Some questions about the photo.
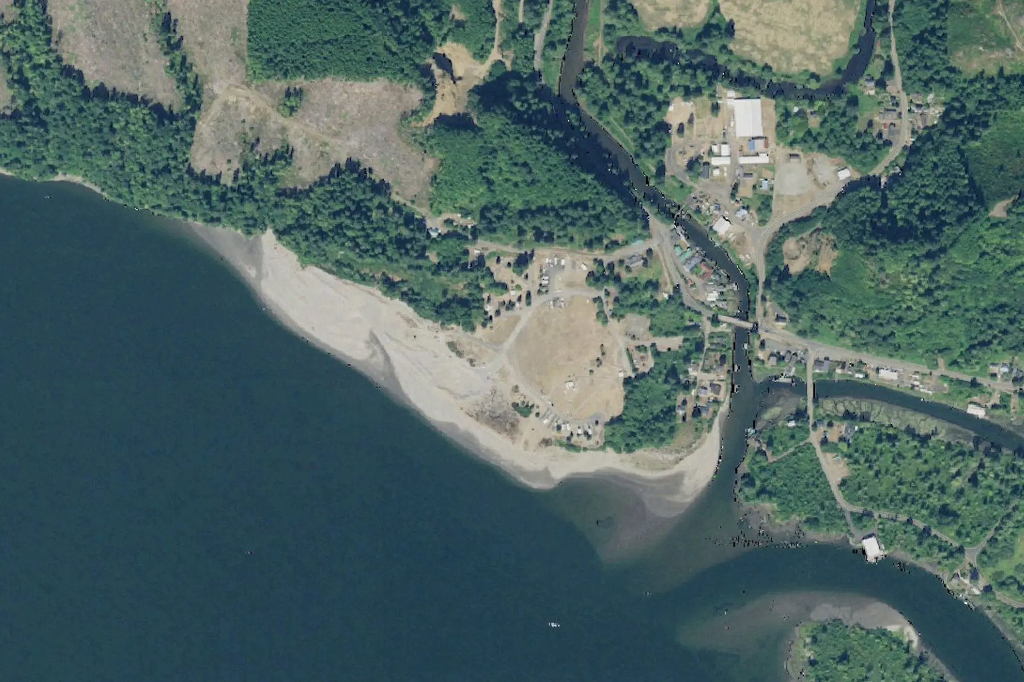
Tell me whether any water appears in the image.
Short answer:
Yes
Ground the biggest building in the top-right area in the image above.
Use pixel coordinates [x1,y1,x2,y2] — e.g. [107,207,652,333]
[734,98,763,136]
